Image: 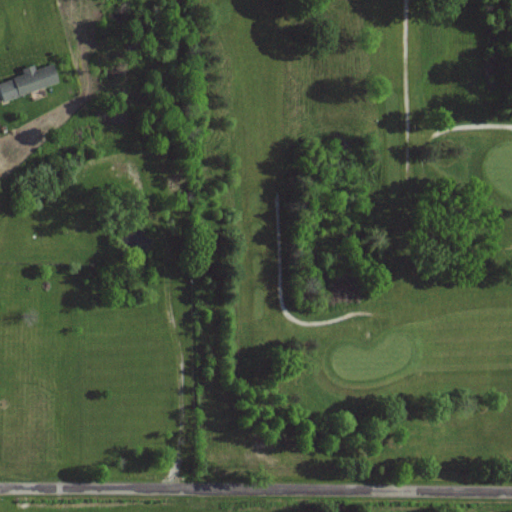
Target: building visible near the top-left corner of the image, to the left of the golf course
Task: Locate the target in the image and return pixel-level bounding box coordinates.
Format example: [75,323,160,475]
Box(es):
[0,64,60,103]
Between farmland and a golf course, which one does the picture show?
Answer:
golf course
